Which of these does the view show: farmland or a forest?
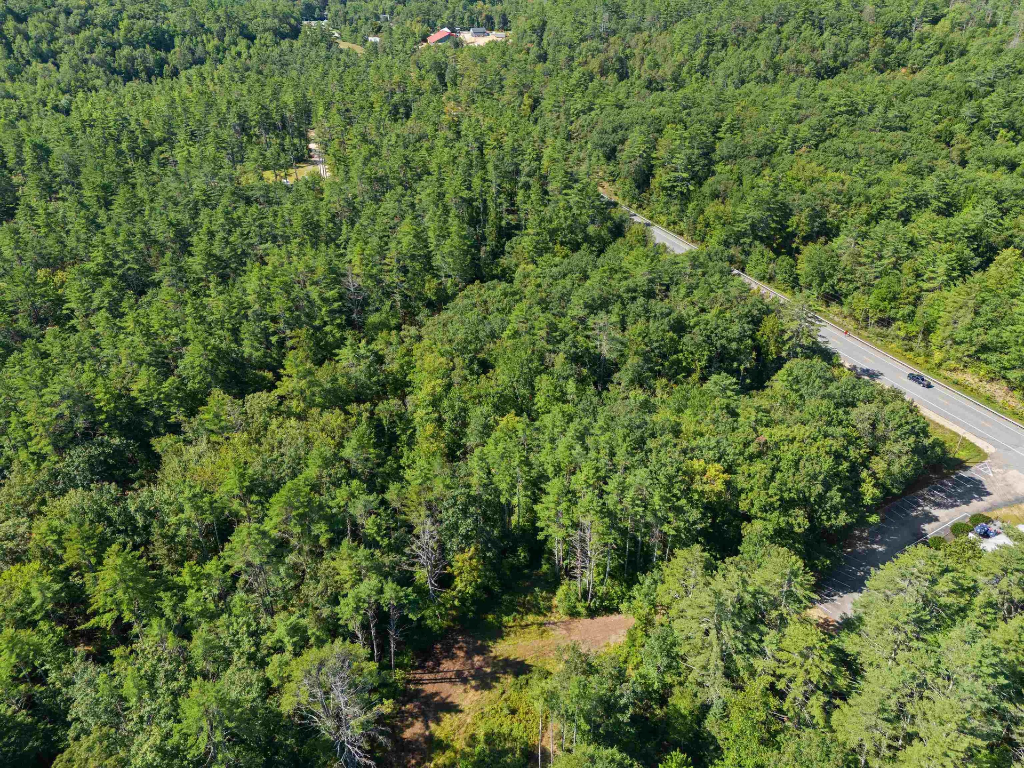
forest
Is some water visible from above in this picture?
No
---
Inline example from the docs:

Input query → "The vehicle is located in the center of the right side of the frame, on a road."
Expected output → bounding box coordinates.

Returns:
[905,375,932,389]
